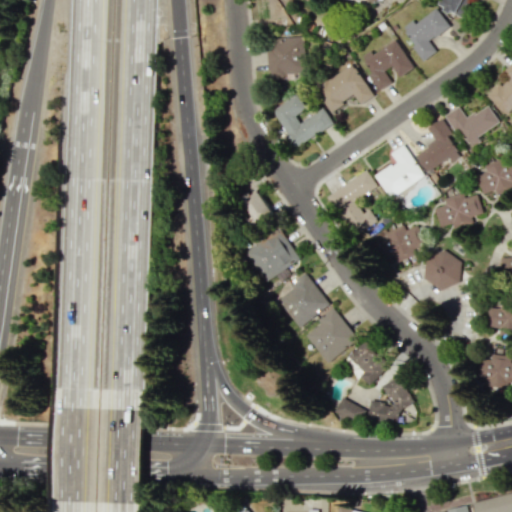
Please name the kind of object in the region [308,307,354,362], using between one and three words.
house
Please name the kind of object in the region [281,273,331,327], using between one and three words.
house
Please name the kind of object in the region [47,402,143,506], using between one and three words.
overpass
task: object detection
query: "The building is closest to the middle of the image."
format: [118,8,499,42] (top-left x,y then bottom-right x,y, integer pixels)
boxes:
[248,234,299,281]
